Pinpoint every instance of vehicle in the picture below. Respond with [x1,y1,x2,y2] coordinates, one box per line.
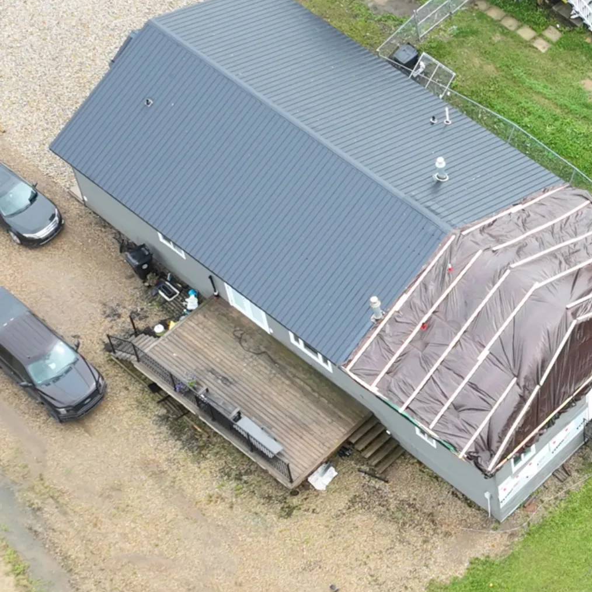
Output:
[0,162,65,253]
[0,290,110,424]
